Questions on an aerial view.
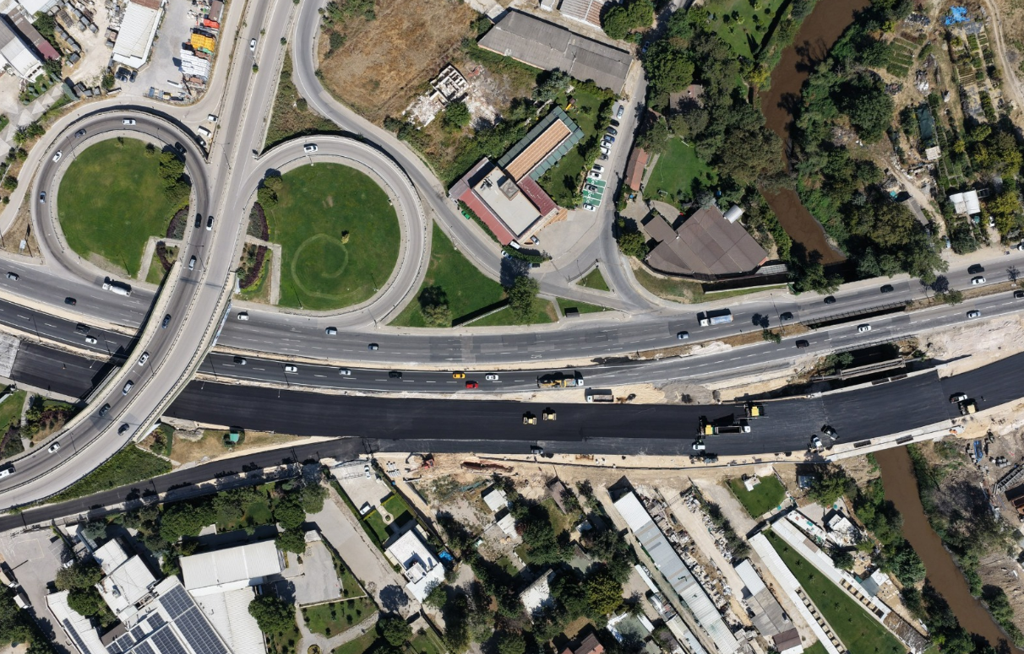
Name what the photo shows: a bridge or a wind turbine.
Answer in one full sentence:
This aerial view contains a bridge.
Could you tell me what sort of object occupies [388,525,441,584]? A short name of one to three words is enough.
house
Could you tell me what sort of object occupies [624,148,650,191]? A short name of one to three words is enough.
building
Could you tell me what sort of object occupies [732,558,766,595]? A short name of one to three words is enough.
shed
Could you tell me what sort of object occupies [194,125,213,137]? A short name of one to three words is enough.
vehicle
